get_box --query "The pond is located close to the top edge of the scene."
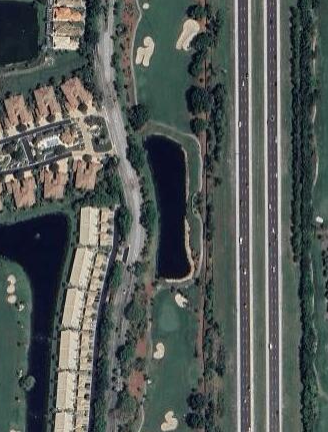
[0,0,38,66]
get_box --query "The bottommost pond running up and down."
[145,133,190,280]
